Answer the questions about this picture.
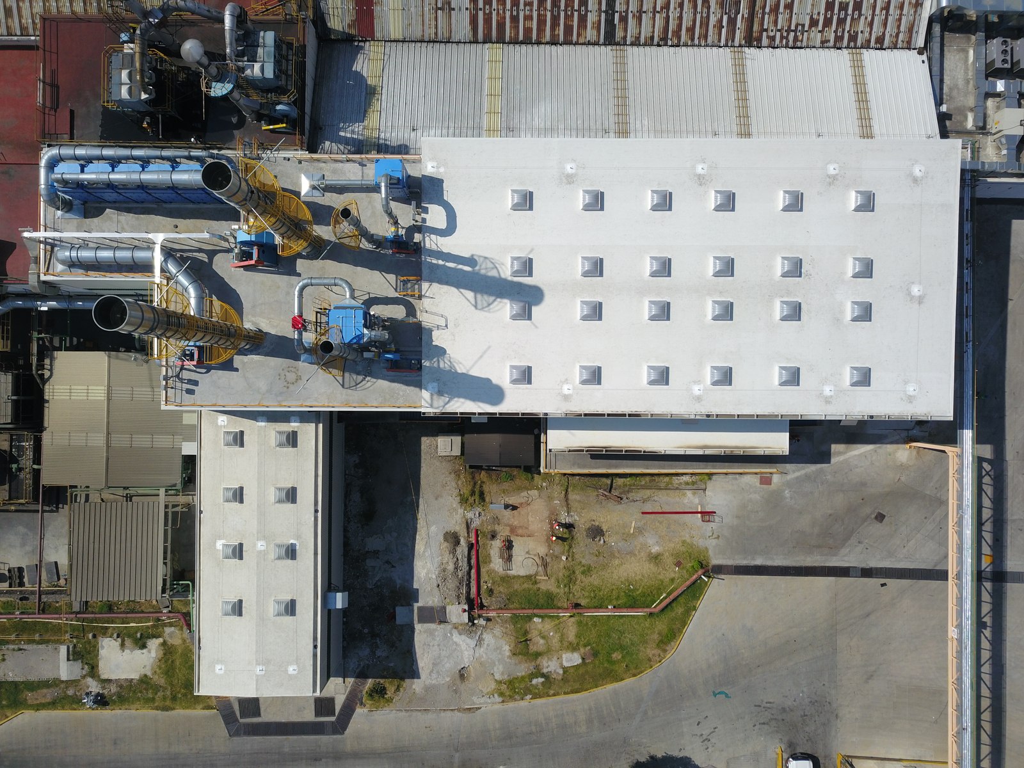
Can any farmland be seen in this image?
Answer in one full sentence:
No, no farmland is visible.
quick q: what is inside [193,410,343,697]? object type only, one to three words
building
